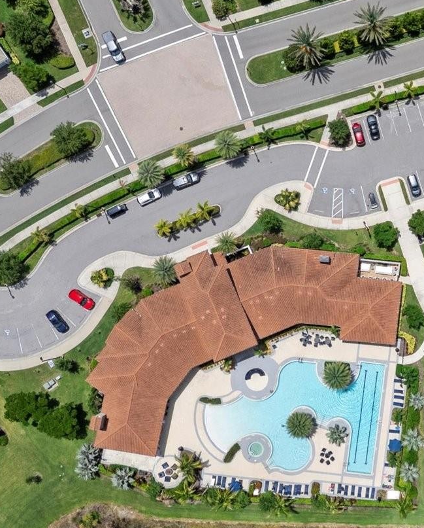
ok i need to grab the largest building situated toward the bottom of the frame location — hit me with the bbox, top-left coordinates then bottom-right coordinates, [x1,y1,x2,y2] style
[85,246,403,457]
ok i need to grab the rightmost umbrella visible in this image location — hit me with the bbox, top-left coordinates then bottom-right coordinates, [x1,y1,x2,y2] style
[388,438,403,451]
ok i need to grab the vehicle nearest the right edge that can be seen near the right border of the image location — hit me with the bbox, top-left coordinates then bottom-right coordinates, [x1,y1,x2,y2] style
[407,173,422,199]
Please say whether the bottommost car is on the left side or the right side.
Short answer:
left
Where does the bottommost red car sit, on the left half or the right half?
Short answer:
left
